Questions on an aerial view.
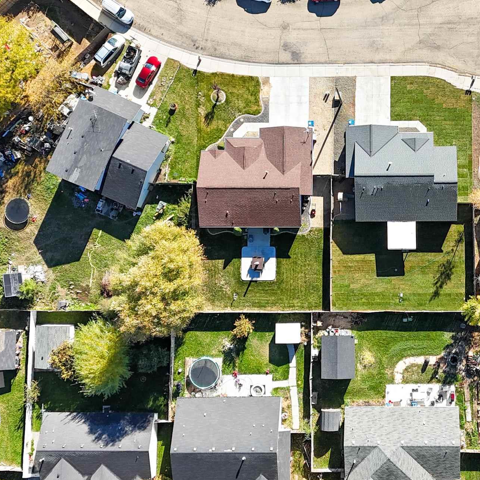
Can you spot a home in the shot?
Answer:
Yes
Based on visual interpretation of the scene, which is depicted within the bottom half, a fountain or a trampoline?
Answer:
trampoline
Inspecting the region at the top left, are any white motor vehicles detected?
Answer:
Yes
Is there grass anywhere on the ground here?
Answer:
Yes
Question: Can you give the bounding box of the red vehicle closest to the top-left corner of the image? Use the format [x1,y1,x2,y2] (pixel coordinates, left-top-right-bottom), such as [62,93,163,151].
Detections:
[135,57,162,90]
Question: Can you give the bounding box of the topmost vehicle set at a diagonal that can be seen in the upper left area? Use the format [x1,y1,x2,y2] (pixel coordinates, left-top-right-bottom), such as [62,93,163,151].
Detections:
[99,0,136,27]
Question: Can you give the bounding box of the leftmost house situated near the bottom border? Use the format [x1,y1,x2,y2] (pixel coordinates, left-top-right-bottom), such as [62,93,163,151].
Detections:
[36,410,159,480]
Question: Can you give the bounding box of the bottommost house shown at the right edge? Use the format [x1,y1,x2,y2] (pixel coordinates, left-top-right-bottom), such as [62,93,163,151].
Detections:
[337,404,460,480]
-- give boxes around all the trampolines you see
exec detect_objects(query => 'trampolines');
[6,198,32,222]
[186,356,221,391]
